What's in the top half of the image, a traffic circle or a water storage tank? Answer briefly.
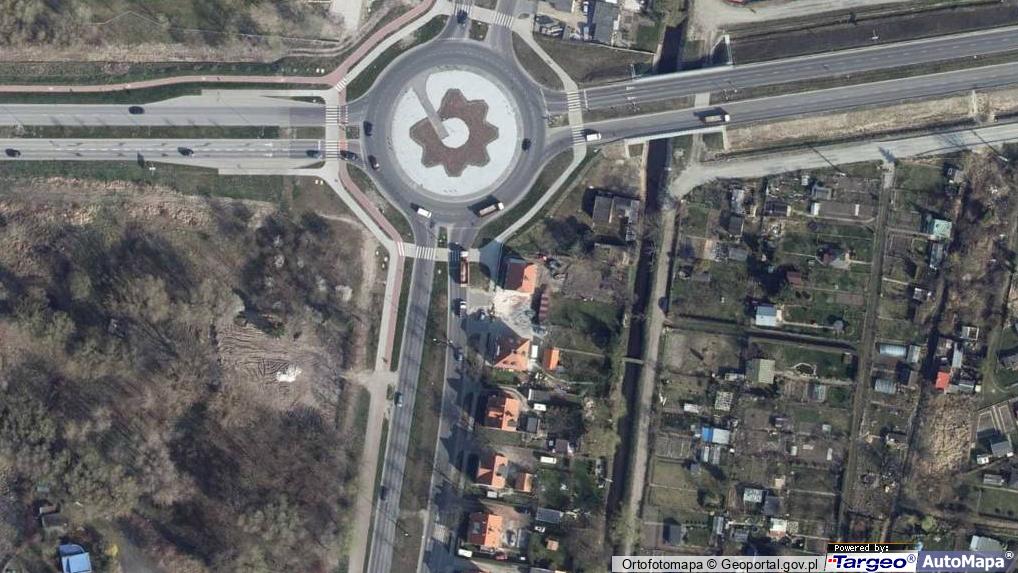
traffic circle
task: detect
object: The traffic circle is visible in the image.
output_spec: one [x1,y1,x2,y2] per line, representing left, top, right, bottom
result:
[359,38,550,228]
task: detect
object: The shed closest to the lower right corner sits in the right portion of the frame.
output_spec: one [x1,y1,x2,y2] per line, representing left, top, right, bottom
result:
[971,535,1010,563]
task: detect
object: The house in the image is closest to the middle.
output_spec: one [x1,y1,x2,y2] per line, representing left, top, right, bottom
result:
[503,256,538,294]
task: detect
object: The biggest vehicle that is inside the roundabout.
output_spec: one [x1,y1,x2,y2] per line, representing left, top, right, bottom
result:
[475,201,505,217]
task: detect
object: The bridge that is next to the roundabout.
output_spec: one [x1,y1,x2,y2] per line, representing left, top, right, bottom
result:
[625,31,736,155]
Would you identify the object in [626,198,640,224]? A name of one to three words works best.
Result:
building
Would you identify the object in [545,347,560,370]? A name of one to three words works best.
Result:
shed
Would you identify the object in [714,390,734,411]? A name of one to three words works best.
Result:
greenhouse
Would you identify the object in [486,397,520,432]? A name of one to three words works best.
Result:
house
